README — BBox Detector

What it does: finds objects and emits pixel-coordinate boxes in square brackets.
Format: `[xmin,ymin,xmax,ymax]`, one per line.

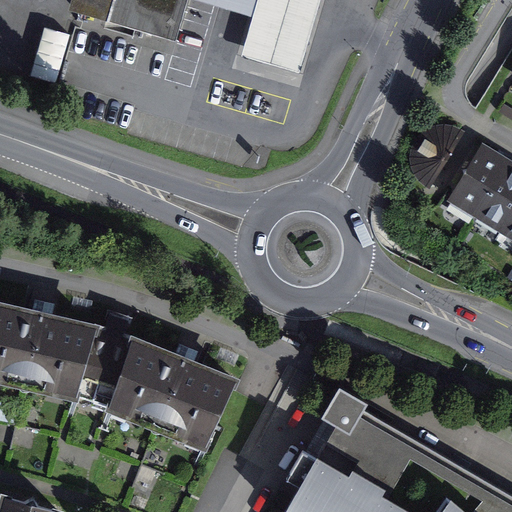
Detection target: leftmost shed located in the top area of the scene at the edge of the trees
[30,28,70,82]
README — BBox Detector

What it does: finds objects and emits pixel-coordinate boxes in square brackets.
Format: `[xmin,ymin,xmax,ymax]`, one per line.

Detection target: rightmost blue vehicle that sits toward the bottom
[464,338,486,354]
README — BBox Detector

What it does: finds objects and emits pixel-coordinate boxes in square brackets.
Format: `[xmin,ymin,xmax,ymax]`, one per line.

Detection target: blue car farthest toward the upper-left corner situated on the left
[100,40,112,61]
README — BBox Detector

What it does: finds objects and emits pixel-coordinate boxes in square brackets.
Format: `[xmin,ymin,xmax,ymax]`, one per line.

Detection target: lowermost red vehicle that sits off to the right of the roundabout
[454,305,478,322]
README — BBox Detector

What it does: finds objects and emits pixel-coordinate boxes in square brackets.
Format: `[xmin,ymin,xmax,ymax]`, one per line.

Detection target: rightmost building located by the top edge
[242,0,320,72]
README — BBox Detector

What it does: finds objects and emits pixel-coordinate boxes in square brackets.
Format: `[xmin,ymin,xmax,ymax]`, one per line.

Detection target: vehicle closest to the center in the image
[254,232,266,255]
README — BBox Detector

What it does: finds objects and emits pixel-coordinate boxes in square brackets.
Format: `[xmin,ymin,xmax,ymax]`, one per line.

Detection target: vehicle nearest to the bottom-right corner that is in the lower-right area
[418,428,440,446]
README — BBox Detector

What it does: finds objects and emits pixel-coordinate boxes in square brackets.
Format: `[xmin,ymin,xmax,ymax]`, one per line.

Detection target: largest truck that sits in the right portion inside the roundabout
[350,211,374,248]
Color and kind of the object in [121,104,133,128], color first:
white vehicle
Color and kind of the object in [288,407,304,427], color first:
red car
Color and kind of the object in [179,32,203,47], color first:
white vehicle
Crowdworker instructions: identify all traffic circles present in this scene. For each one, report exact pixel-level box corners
[236,180,375,319]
